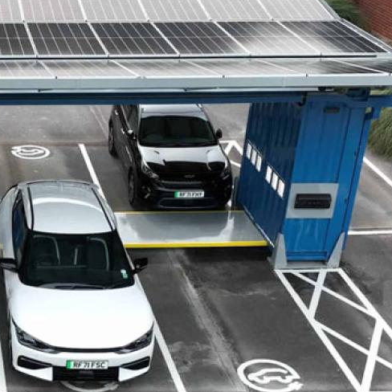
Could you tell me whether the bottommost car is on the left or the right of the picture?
left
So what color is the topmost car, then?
black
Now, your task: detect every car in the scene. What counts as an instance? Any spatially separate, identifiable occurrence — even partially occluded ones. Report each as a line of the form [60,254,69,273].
[115,103,240,208]
[0,180,156,384]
